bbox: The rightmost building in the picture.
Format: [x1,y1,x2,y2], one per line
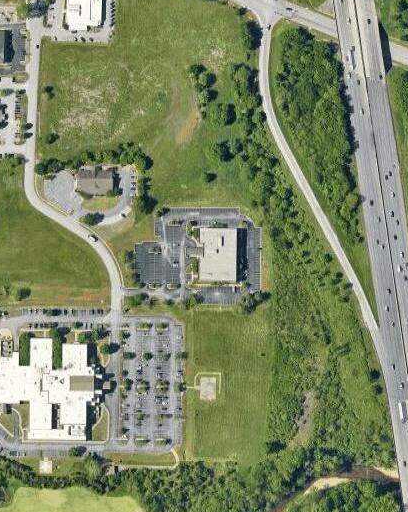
[199,228,238,281]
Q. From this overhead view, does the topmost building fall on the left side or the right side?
left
